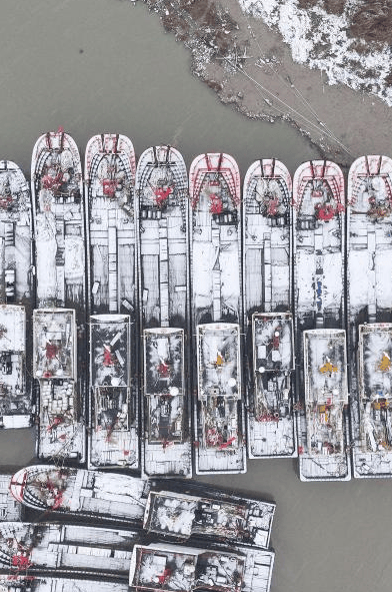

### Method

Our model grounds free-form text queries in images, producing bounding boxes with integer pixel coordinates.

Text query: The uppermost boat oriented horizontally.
[7,465,276,547]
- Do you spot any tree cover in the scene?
No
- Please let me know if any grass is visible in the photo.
No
